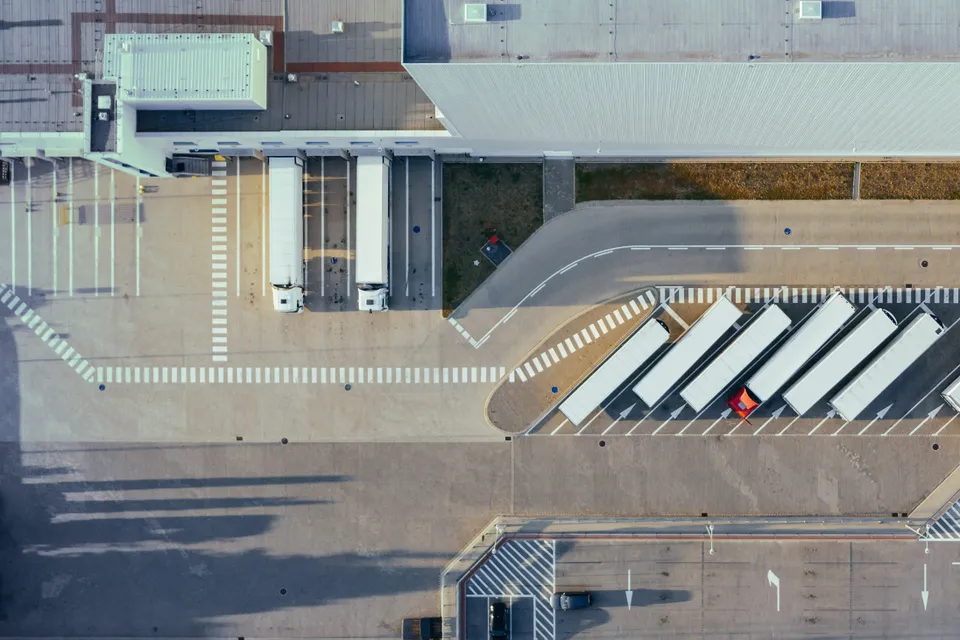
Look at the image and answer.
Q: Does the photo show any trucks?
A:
Yes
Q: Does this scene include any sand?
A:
No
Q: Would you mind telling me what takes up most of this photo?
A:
paved ground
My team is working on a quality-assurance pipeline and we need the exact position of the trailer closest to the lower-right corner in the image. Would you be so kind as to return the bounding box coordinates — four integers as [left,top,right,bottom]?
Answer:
[934,370,960,413]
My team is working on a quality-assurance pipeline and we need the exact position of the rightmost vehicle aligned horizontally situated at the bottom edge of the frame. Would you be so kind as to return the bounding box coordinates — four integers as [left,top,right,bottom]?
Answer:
[551,590,592,611]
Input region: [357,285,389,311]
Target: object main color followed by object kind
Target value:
white truck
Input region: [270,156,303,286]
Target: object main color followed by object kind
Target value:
white trailer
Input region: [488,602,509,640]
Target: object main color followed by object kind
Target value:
black car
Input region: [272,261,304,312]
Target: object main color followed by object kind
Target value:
white truck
